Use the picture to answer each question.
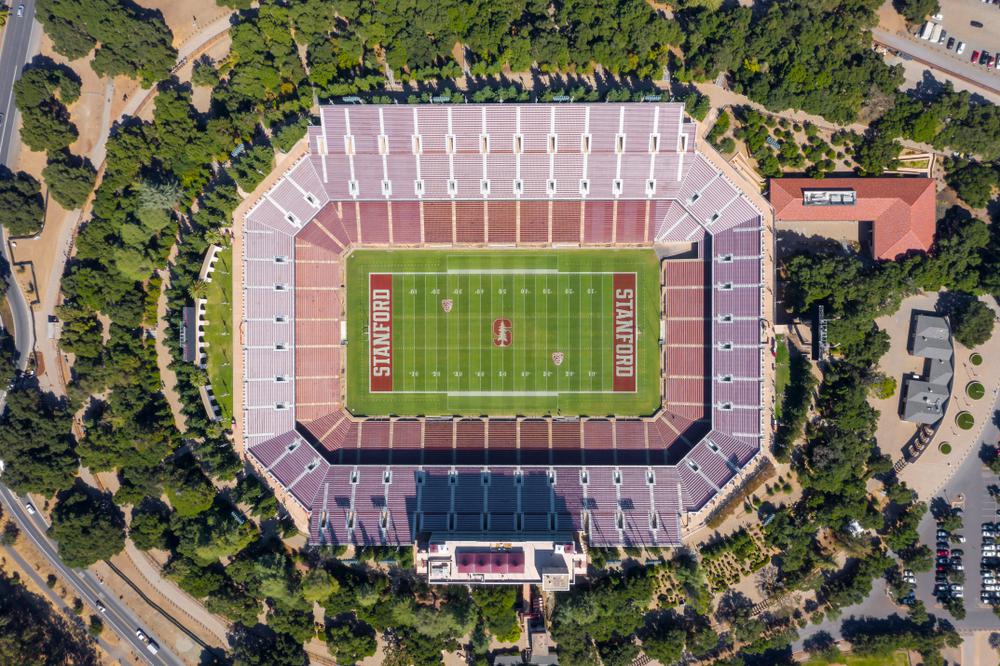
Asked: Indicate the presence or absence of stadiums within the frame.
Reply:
Yes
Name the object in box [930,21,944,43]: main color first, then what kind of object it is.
white vehicle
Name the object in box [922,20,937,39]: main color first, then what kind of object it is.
white vehicle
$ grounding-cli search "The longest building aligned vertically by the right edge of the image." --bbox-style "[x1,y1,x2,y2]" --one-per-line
[899,315,959,465]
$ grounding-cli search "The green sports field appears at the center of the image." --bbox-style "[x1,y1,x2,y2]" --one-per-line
[347,249,660,415]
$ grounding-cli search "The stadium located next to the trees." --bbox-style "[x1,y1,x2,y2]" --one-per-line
[231,103,777,547]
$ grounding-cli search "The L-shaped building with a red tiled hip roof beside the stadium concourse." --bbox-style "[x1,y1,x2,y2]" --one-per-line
[768,178,936,260]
